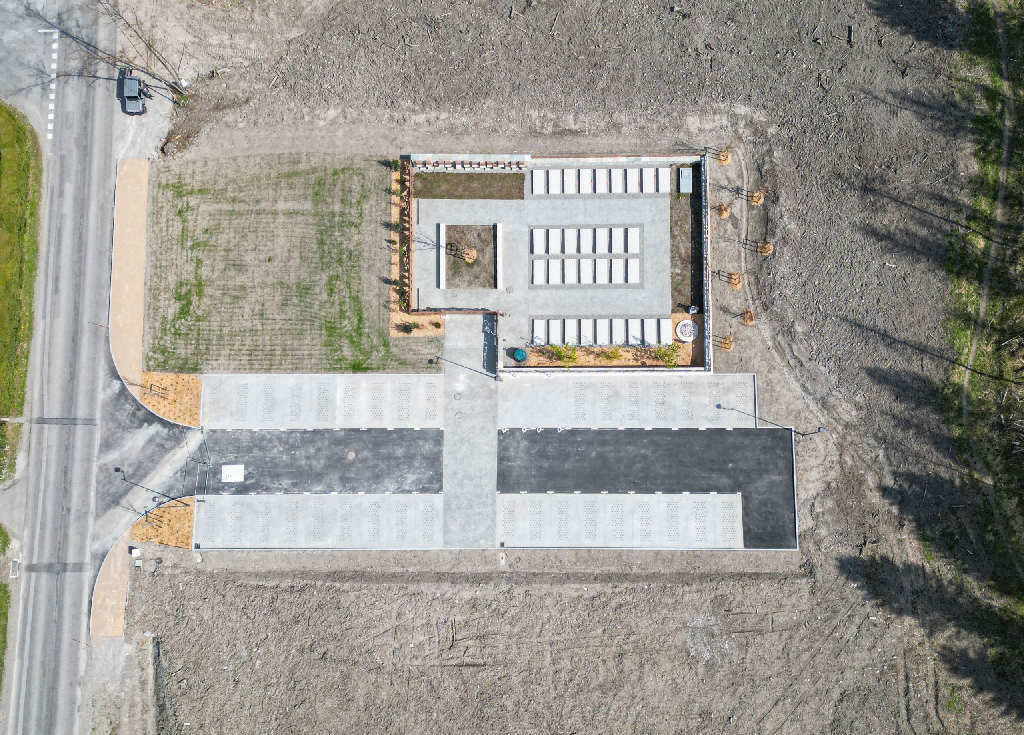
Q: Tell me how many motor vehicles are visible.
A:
1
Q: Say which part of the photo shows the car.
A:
top left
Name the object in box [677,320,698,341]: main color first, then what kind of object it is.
white fountain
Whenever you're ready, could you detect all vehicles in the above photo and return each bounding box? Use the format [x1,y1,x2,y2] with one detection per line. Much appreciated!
[123,66,152,114]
